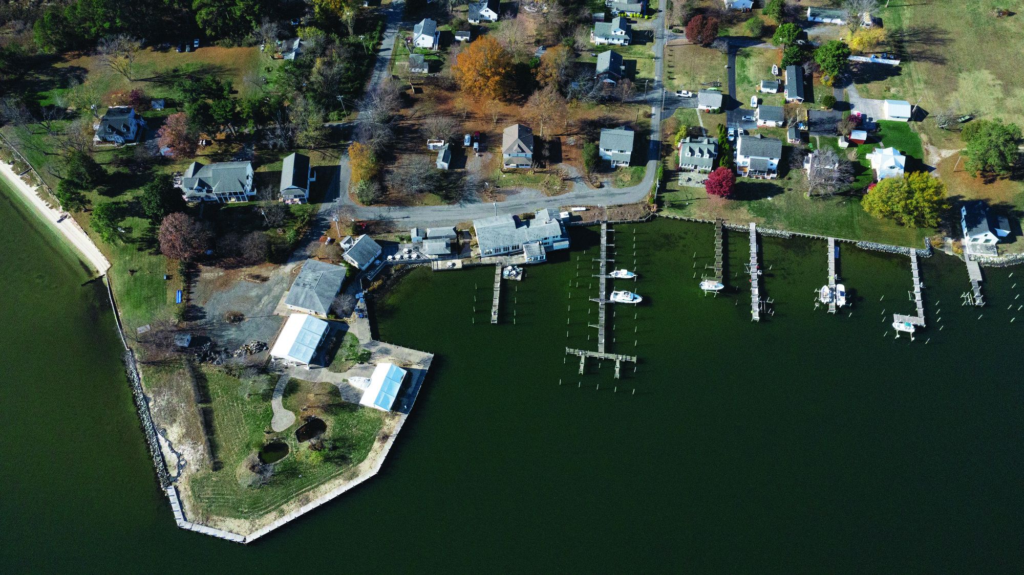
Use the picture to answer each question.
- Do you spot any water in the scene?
Yes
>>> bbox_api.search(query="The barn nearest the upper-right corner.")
[880,99,911,126]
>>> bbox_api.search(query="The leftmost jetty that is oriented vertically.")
[490,265,503,325]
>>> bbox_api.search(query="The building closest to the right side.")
[953,198,1016,247]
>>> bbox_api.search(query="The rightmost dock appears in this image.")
[961,244,986,309]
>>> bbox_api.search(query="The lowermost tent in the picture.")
[359,364,411,419]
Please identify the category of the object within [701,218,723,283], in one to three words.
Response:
pier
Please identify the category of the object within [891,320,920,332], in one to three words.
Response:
boat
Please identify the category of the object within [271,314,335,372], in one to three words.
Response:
tent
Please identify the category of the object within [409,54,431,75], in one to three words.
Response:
building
